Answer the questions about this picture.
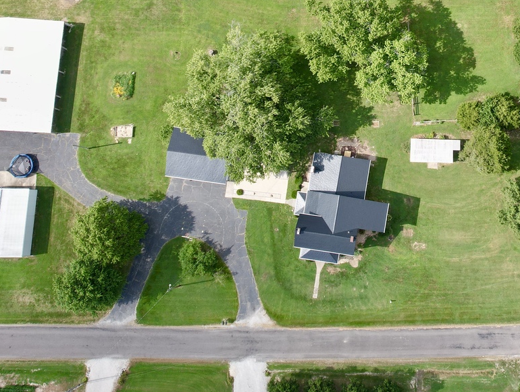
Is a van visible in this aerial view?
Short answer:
No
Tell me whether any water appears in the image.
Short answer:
No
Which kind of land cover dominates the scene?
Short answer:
grass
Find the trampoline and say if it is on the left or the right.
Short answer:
left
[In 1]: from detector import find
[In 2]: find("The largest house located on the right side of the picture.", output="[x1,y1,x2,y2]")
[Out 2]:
[294,148,389,264]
